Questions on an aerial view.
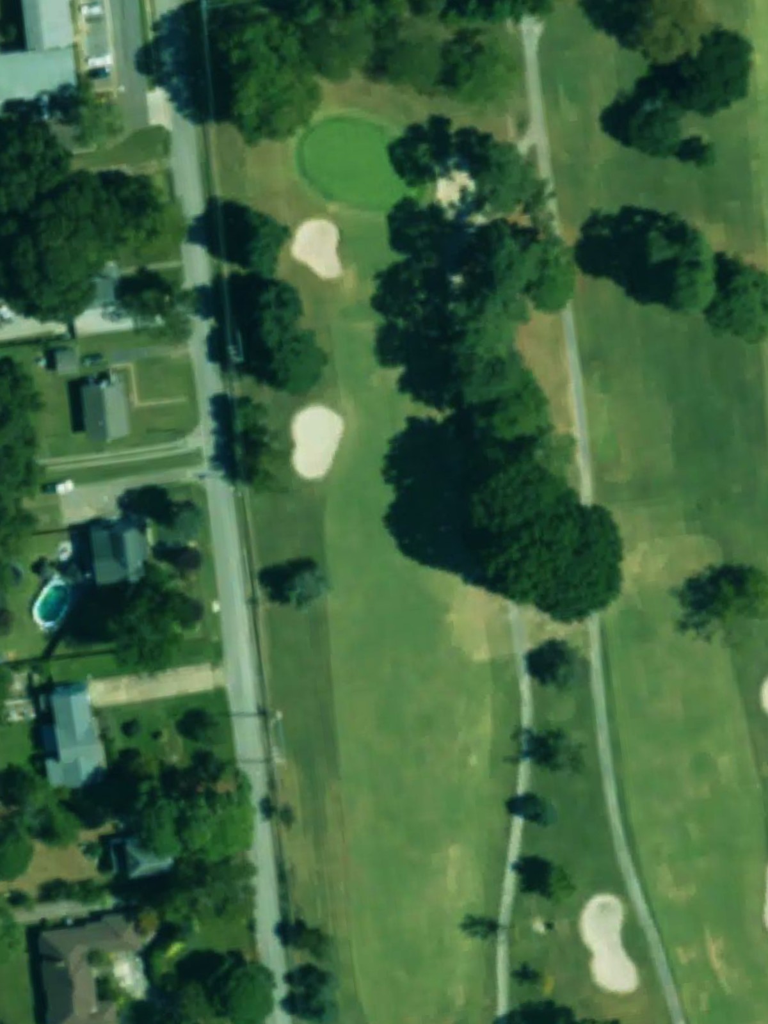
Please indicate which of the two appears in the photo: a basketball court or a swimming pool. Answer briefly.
swimming pool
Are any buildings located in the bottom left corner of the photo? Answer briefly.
Yes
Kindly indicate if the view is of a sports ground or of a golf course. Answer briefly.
golf course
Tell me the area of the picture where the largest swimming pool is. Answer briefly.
left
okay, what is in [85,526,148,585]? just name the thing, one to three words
house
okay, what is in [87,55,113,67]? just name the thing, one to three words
vehicle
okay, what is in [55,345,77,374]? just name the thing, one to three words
shed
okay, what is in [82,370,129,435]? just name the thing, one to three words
house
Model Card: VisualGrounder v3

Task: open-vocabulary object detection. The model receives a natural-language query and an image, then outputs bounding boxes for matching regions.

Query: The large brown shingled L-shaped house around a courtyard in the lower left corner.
[39,912,152,1024]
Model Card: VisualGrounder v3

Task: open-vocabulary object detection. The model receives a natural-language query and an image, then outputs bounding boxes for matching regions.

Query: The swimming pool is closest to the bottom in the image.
[31,571,72,632]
